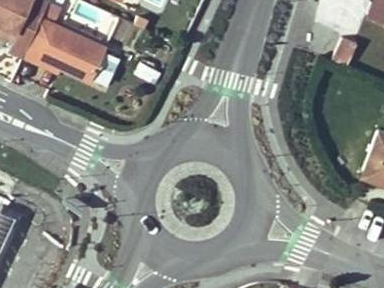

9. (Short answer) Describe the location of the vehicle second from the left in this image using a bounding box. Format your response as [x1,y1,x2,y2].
[38,68,54,87]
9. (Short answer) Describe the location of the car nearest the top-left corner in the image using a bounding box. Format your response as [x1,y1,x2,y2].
[20,62,34,82]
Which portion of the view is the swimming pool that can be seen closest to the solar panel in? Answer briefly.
top left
